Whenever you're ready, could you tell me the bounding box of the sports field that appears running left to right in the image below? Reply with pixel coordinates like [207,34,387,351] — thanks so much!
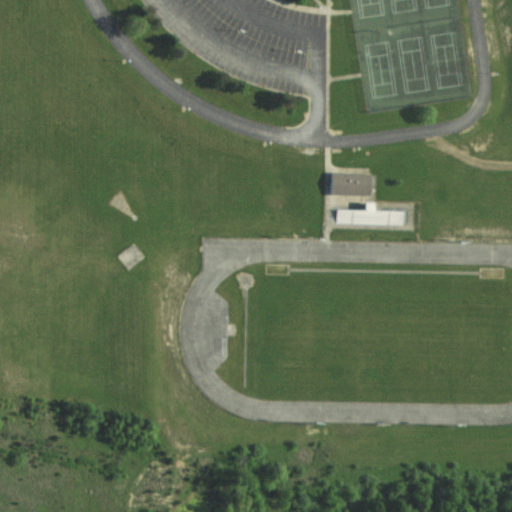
[213,262,512,403]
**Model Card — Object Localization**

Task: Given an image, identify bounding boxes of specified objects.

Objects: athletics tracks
[182,238,512,424]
